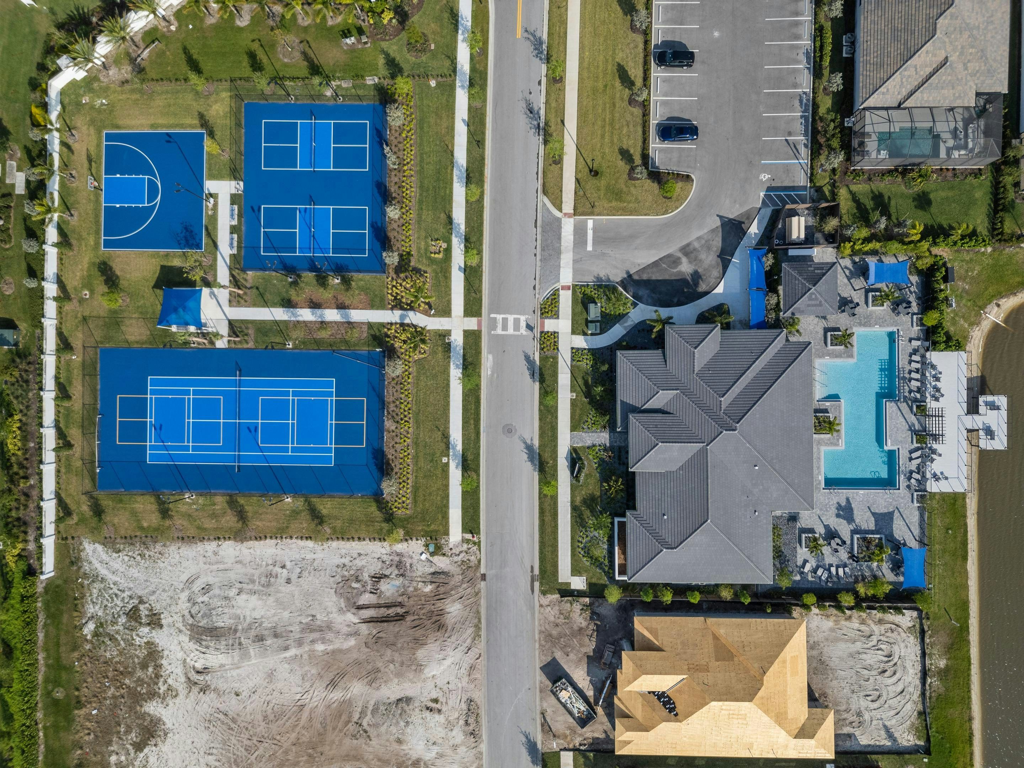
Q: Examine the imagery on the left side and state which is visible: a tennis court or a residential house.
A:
tennis court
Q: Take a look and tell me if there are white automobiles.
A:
No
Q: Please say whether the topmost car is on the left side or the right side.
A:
right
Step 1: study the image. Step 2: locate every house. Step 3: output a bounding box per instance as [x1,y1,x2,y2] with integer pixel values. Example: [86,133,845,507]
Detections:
[614,616,834,758]
[616,324,814,584]
[853,0,1014,113]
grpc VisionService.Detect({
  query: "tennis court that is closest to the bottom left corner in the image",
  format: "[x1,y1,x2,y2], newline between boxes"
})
[97,347,386,497]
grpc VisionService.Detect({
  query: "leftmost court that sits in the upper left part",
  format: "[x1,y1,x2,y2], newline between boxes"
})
[102,131,206,252]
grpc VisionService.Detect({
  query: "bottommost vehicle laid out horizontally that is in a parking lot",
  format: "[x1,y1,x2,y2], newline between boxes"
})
[659,123,699,142]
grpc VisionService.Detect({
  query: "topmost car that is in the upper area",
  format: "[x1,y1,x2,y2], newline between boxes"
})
[658,48,696,68]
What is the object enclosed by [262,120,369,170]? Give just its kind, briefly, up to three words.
sports court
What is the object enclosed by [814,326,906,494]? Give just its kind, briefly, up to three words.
swimming pool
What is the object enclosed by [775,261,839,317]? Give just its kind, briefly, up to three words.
building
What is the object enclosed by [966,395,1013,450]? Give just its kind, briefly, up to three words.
pier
